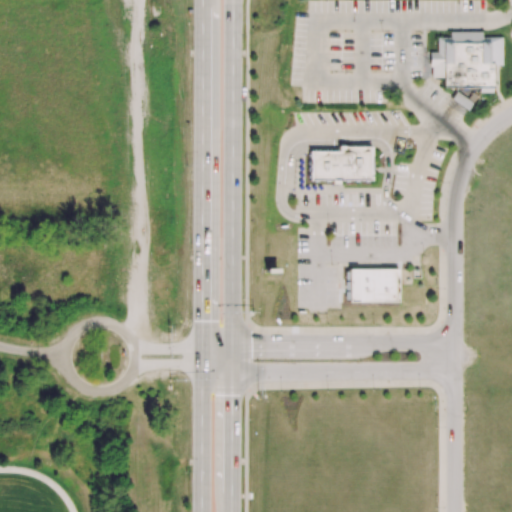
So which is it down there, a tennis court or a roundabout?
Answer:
roundabout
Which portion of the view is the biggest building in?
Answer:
top right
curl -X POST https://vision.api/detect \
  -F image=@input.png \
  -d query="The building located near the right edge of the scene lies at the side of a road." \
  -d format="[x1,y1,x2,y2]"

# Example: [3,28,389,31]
[429,32,505,94]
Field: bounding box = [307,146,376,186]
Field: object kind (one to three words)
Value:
building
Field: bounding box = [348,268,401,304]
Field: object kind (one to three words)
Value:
building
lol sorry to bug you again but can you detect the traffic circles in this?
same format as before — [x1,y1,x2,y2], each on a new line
[62,315,140,396]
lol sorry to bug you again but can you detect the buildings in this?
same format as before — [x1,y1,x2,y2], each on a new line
[429,32,505,94]
[307,146,376,186]
[348,268,401,304]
